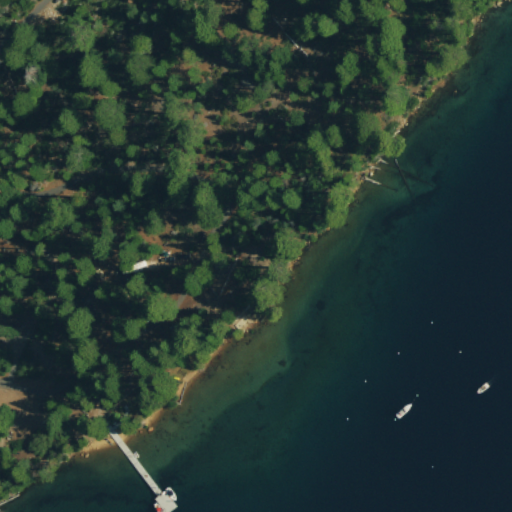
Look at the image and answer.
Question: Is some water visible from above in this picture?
Yes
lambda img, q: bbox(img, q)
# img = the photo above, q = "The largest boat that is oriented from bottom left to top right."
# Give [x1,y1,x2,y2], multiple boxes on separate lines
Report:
[395,404,412,420]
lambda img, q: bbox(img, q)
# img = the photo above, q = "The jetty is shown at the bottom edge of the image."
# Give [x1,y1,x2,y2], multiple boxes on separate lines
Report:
[109,430,178,512]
